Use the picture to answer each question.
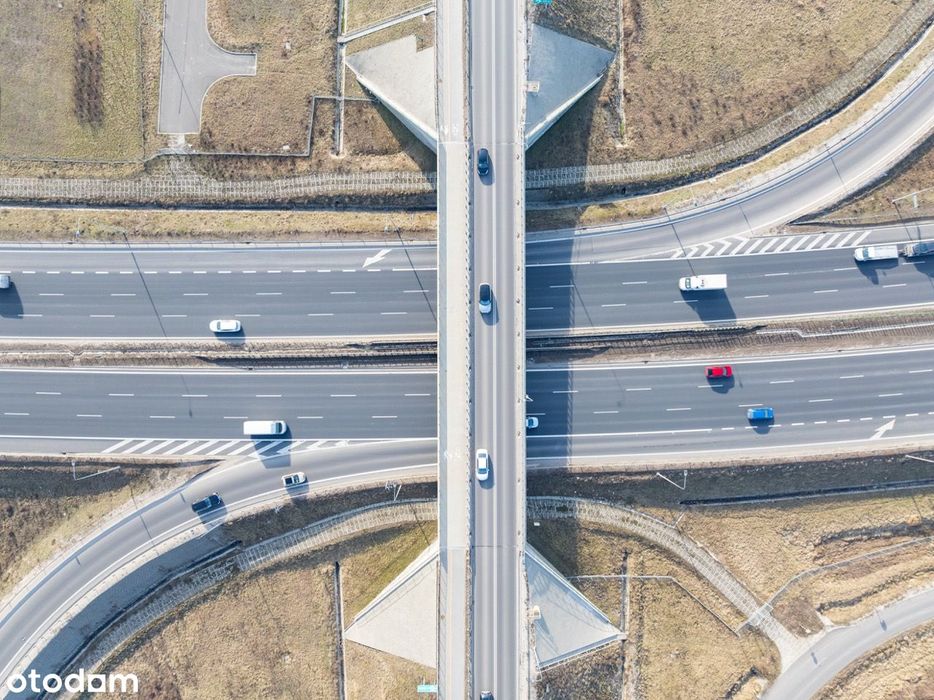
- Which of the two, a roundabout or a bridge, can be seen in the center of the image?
bridge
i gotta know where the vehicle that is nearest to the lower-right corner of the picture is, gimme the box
[745,407,773,421]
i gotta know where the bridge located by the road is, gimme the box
[341,49,626,640]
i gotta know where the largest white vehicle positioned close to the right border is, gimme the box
[852,246,898,262]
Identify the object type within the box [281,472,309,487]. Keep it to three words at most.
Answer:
car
